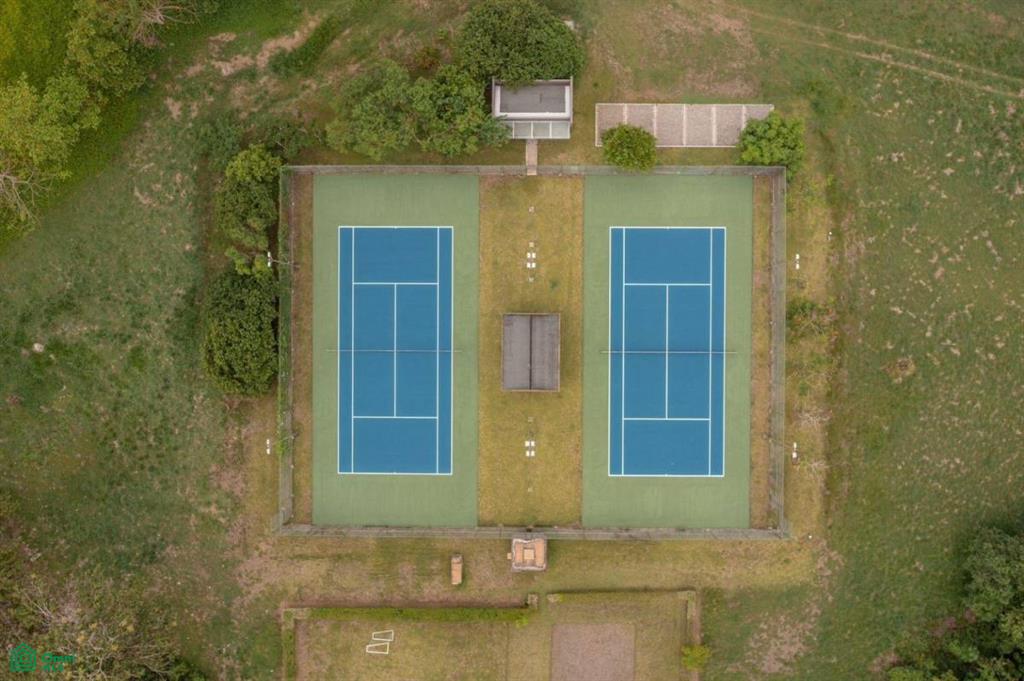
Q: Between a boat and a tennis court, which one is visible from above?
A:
tennis court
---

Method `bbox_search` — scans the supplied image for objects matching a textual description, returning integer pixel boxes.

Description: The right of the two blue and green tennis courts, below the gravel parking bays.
[582,174,753,528]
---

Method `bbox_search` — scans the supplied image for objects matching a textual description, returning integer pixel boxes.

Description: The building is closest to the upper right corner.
[492,76,572,139]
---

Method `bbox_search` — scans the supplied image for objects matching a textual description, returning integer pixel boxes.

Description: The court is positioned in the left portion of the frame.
[312,174,479,526]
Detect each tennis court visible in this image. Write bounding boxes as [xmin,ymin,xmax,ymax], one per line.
[582,174,753,528]
[312,174,479,526]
